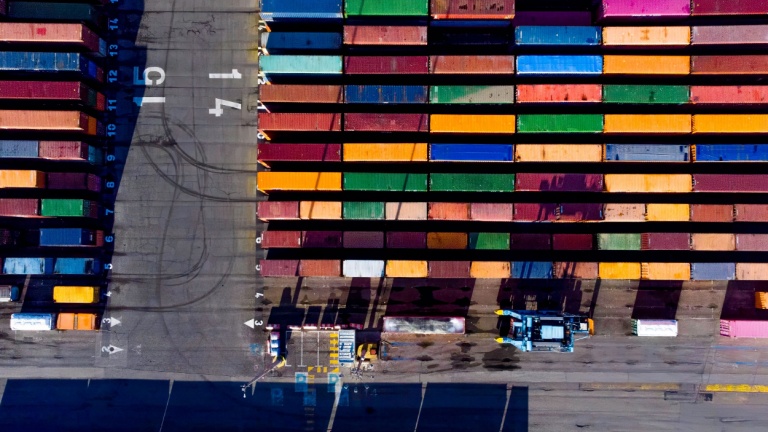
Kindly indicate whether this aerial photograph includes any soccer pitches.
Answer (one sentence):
No, I can't see a single soccer pitch in this photo.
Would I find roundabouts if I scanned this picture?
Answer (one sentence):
No, there's no roundabout here.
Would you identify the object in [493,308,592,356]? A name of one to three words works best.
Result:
work vehicle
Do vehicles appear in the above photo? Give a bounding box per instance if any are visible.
[367,334,376,356]
[493,308,592,356]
